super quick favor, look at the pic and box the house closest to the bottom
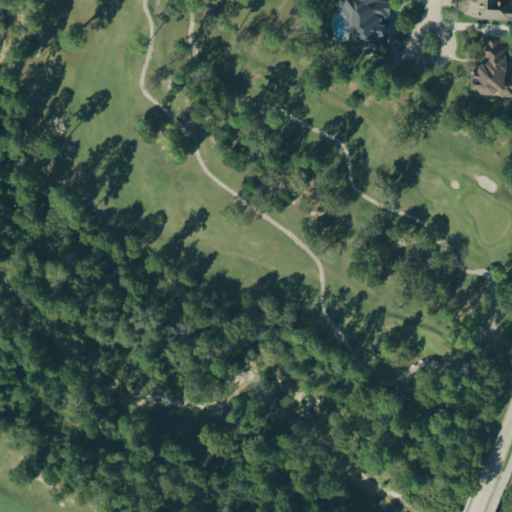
[472,36,512,97]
